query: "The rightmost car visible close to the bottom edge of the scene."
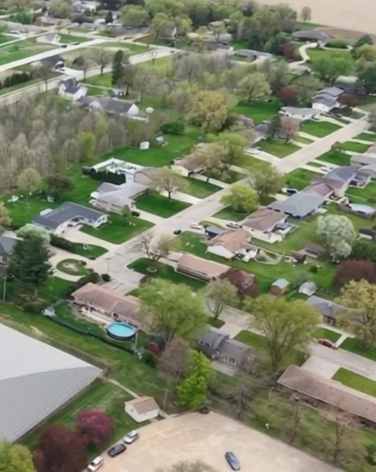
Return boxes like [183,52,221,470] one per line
[224,452,239,470]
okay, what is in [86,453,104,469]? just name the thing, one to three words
car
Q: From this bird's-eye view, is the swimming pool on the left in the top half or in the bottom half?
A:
bottom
